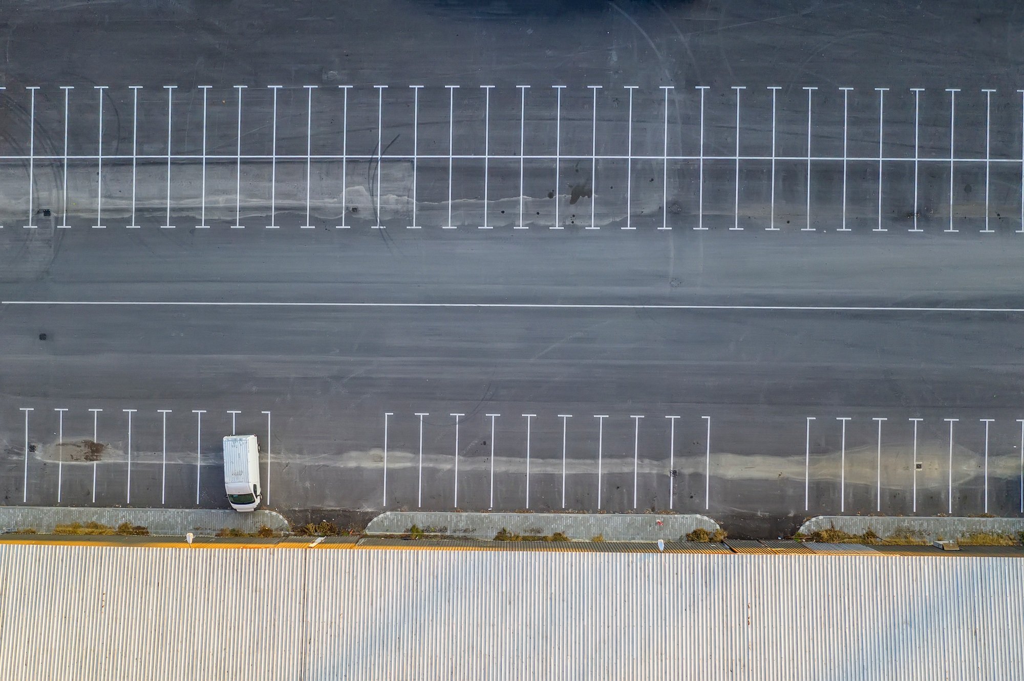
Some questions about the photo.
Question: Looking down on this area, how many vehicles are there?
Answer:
1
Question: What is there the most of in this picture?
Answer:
paved ground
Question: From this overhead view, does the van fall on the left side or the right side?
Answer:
left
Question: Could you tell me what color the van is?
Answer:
white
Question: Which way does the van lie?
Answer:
vertically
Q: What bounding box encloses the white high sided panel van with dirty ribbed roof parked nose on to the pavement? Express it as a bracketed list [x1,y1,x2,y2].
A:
[223,434,262,513]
